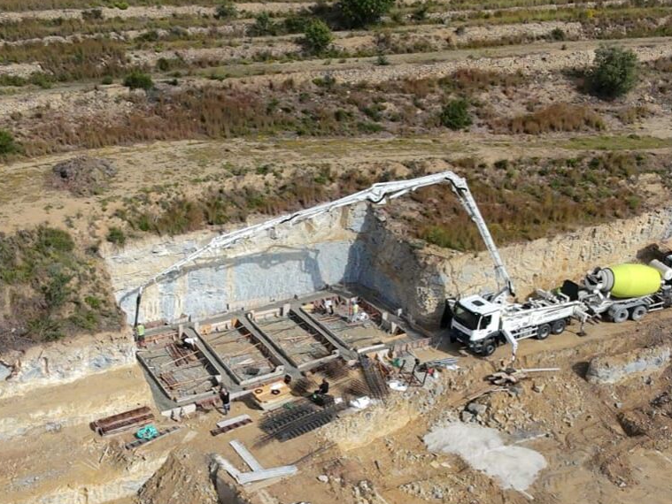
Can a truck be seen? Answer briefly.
Yes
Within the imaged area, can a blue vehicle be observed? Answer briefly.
No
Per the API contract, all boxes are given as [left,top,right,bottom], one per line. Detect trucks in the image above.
[577,251,672,321]
[135,169,594,365]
